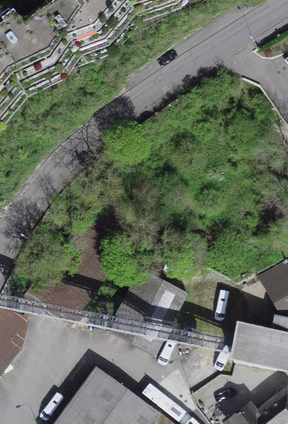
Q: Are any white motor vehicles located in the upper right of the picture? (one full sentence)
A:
No, no white motor vehicle appears in the upper right of the picture.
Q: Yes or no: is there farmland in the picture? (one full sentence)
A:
No, farmland can't be seen anywhere here.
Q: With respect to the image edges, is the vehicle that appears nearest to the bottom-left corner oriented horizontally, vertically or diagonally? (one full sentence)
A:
From this overhead view, the vehicle that appears nearest to the bottom-left corner appears to run diagonally.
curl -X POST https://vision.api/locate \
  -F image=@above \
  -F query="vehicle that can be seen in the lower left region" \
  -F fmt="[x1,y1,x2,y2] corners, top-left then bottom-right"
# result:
[40,392,65,421]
